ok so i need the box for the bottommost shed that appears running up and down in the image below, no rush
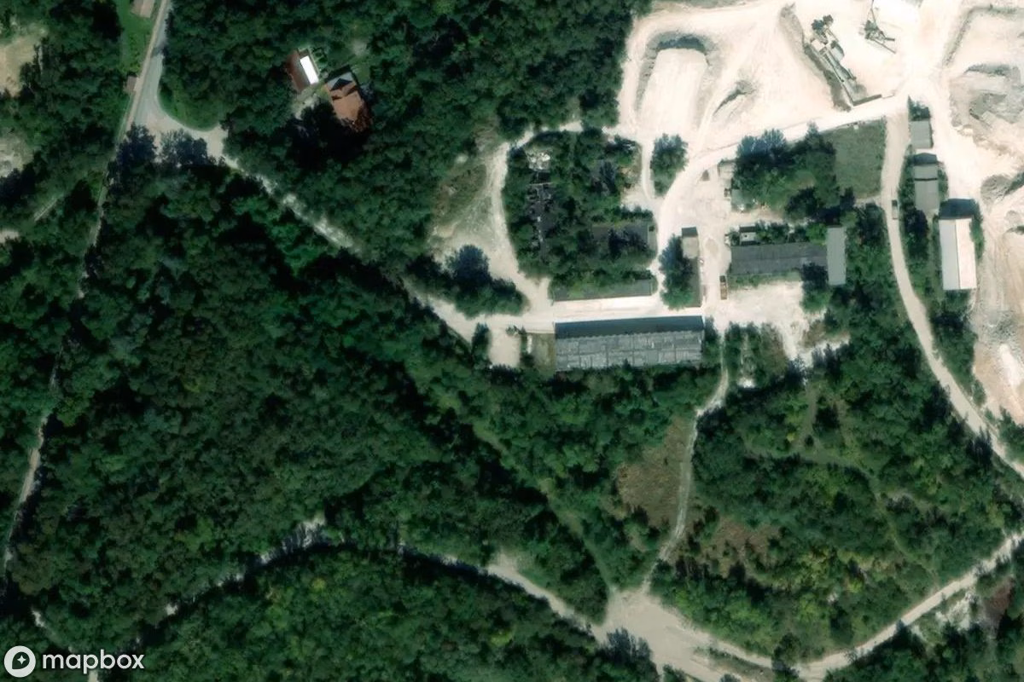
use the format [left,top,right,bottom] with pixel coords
[686,259,702,308]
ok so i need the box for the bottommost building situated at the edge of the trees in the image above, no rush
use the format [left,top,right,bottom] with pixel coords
[555,333,704,372]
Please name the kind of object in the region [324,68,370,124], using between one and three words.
house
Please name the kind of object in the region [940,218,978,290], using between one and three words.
building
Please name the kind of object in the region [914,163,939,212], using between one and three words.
building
